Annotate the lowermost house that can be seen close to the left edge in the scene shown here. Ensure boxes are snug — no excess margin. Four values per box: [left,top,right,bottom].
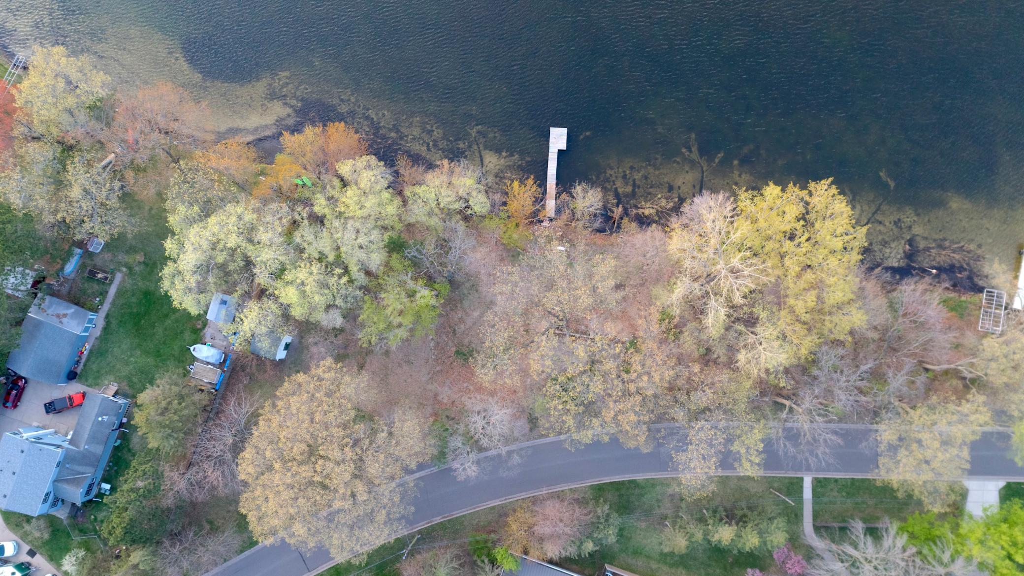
[0,394,136,517]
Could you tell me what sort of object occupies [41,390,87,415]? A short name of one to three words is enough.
truck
